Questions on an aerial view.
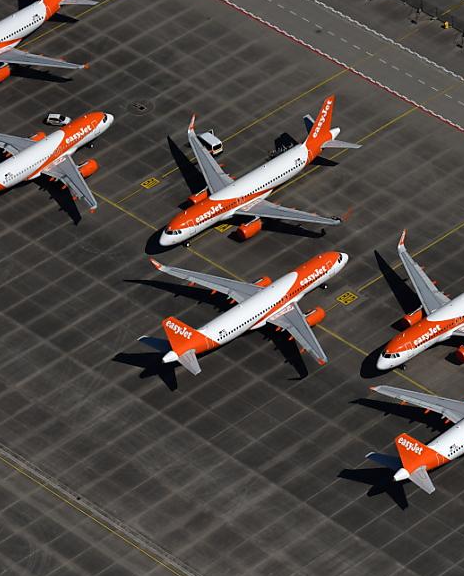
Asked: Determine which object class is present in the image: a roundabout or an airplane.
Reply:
airplane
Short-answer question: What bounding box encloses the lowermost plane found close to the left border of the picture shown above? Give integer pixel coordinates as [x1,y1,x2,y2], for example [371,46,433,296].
[0,112,116,211]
